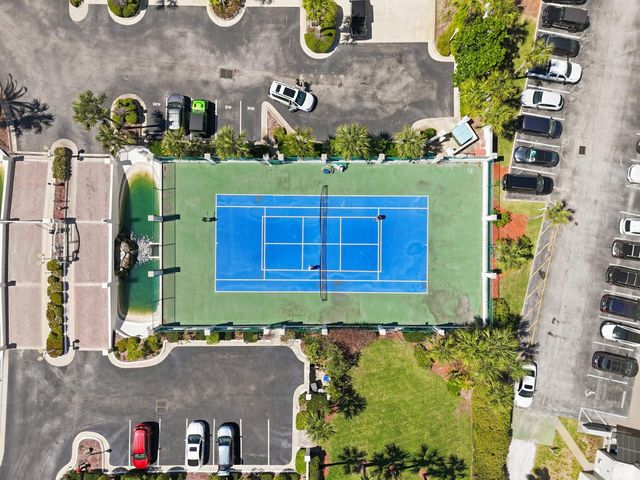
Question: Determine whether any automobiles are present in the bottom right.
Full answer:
Yes, an automobile shows up in the bottom right.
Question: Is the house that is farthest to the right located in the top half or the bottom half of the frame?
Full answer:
The house that is farthest to the right is in the bottom half of the image.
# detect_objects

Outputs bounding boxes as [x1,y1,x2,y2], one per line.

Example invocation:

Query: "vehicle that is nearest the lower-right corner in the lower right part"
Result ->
[591,352,638,378]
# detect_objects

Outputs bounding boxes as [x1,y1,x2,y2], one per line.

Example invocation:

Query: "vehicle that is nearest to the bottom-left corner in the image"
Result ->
[129,423,153,468]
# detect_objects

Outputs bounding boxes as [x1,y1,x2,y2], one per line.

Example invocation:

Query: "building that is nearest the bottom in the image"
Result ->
[566,420,640,480]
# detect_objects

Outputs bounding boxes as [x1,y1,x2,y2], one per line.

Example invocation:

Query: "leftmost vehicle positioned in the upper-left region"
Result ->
[163,95,186,139]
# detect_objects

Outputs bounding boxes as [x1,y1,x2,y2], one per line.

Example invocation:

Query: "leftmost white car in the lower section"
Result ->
[184,422,206,469]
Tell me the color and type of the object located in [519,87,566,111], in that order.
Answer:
white car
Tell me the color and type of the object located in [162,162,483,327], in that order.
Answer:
green tennis court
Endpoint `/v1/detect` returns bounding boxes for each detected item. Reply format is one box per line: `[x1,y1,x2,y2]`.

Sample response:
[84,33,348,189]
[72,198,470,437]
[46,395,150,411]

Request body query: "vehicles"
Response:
[184,422,206,469]
[216,426,236,473]
[512,362,538,407]
[599,295,640,318]
[526,60,581,84]
[349,0,367,39]
[513,145,560,168]
[543,6,586,31]
[618,217,640,235]
[604,264,640,286]
[516,116,563,138]
[611,239,640,260]
[600,322,640,343]
[269,81,315,116]
[163,95,186,139]
[504,173,552,195]
[591,352,638,378]
[534,32,581,58]
[519,87,566,111]
[129,423,153,468]
[189,100,211,138]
